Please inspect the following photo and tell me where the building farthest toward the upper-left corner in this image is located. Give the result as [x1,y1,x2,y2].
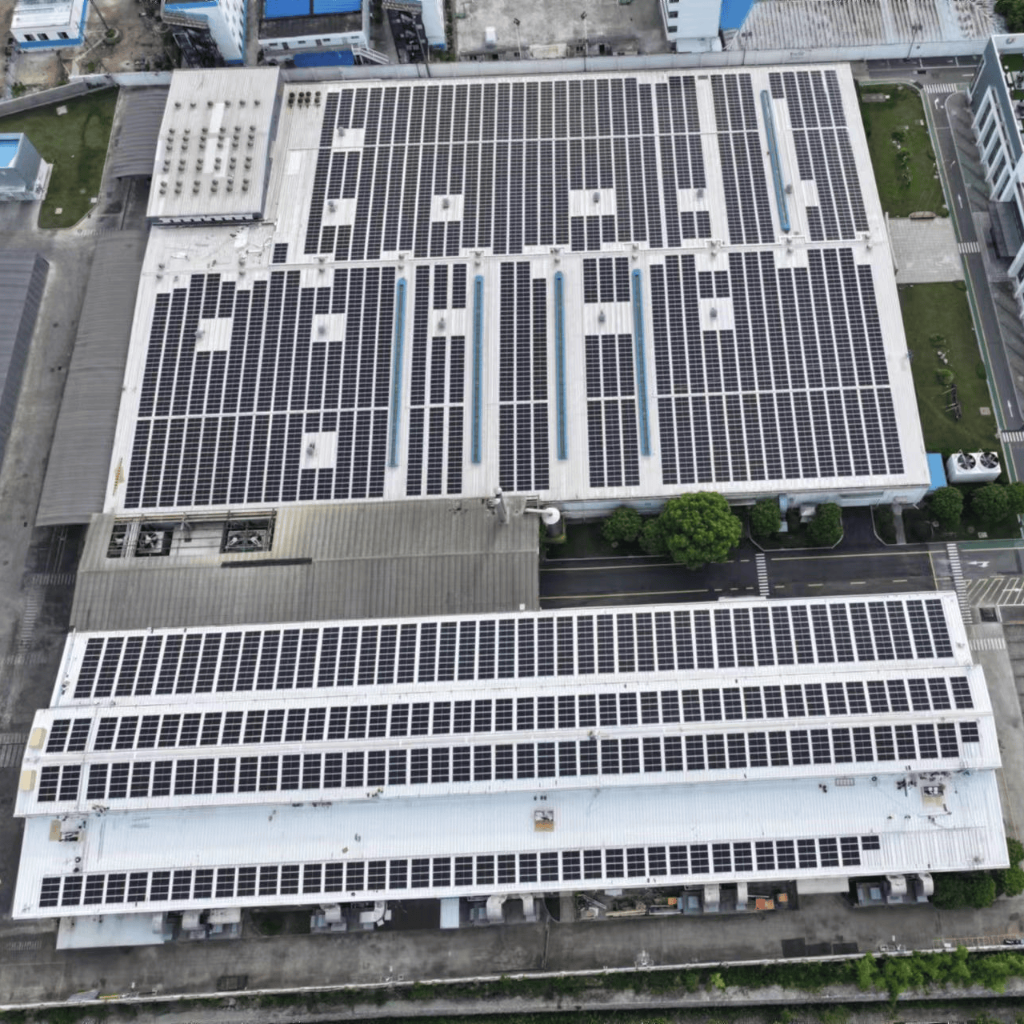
[9,0,95,49]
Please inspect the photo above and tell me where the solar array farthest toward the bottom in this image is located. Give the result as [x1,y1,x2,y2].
[40,836,901,906]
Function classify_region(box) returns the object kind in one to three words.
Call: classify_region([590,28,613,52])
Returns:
shed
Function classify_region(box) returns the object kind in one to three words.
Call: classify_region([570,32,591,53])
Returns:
shed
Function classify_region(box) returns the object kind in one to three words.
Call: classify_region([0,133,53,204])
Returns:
building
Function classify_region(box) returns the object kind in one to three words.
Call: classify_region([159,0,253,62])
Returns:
building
